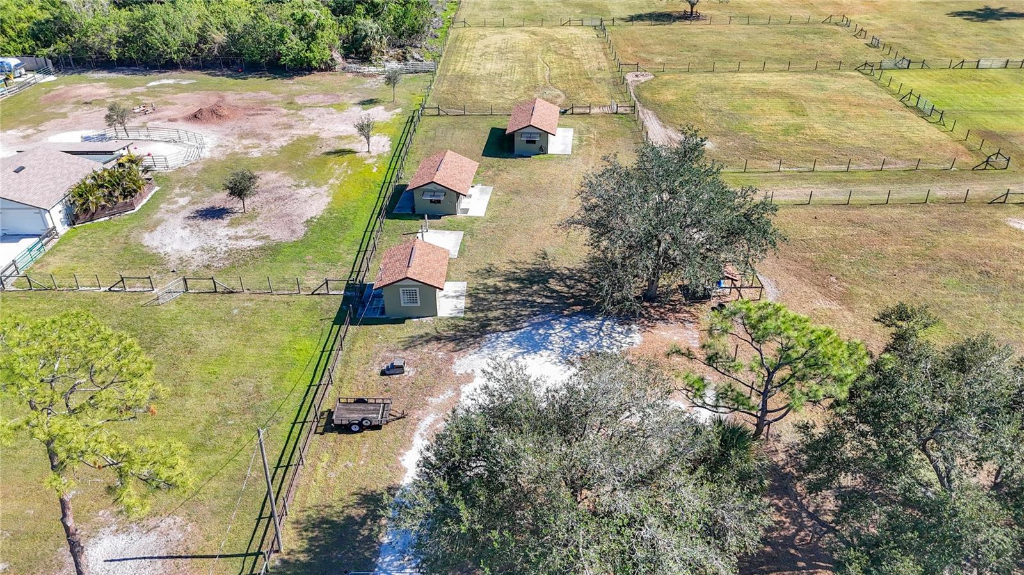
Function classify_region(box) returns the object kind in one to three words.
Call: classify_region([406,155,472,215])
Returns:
house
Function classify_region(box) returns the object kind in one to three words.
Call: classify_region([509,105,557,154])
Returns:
house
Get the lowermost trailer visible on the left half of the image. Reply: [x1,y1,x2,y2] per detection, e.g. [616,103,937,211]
[330,396,415,435]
